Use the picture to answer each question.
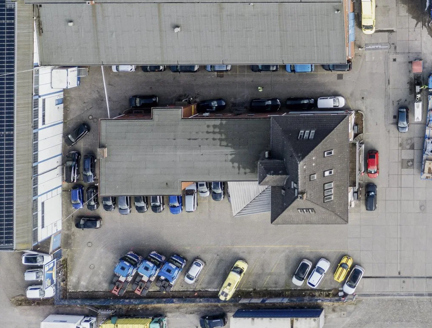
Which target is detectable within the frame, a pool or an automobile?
automobile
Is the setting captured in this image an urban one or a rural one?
urban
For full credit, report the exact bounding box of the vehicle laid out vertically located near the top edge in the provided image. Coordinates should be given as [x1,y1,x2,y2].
[361,0,377,33]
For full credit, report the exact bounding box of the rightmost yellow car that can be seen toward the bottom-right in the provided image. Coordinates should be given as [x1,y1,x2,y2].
[333,255,354,284]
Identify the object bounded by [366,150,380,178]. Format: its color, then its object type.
red vehicle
